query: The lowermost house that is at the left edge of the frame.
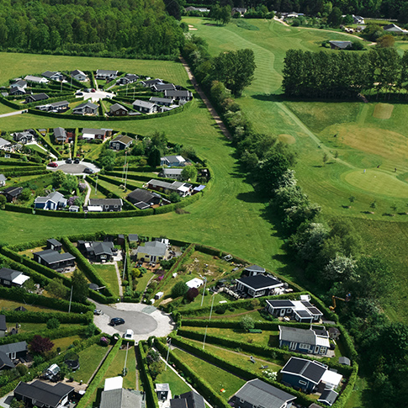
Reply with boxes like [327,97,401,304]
[13,382,74,408]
